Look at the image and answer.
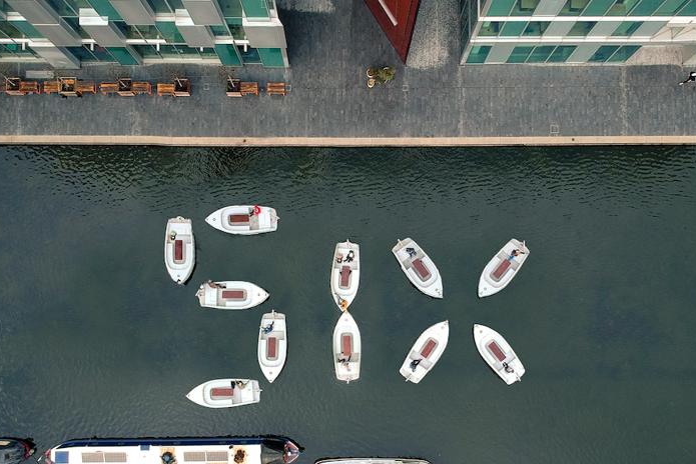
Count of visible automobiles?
0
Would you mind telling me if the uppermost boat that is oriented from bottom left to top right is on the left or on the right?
right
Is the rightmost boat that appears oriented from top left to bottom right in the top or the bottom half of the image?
bottom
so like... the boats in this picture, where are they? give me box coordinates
[258,310,287,383]
[333,311,362,383]
[206,205,280,234]
[198,280,269,309]
[401,320,449,383]
[477,238,529,298]
[189,379,263,409]
[331,241,361,312]
[166,214,195,285]
[392,238,444,299]
[47,435,311,464]
[474,323,525,385]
